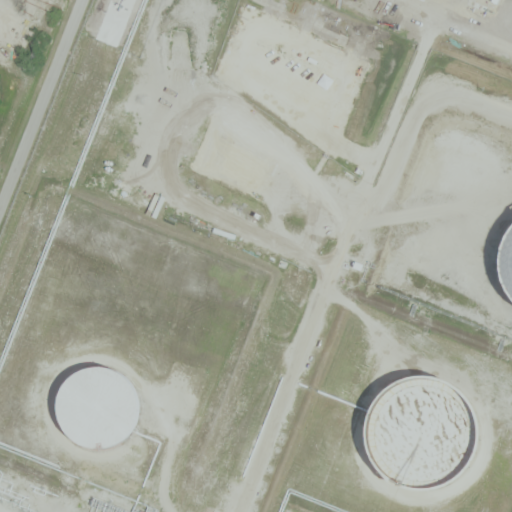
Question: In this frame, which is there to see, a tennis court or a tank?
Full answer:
It is a tank that can be seen here.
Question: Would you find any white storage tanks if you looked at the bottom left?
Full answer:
Yes, a white storage tank shows up at the bottom left.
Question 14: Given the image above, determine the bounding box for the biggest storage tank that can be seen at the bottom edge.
[362,374,478,492]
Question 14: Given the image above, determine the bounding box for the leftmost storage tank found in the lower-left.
[53,365,142,453]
